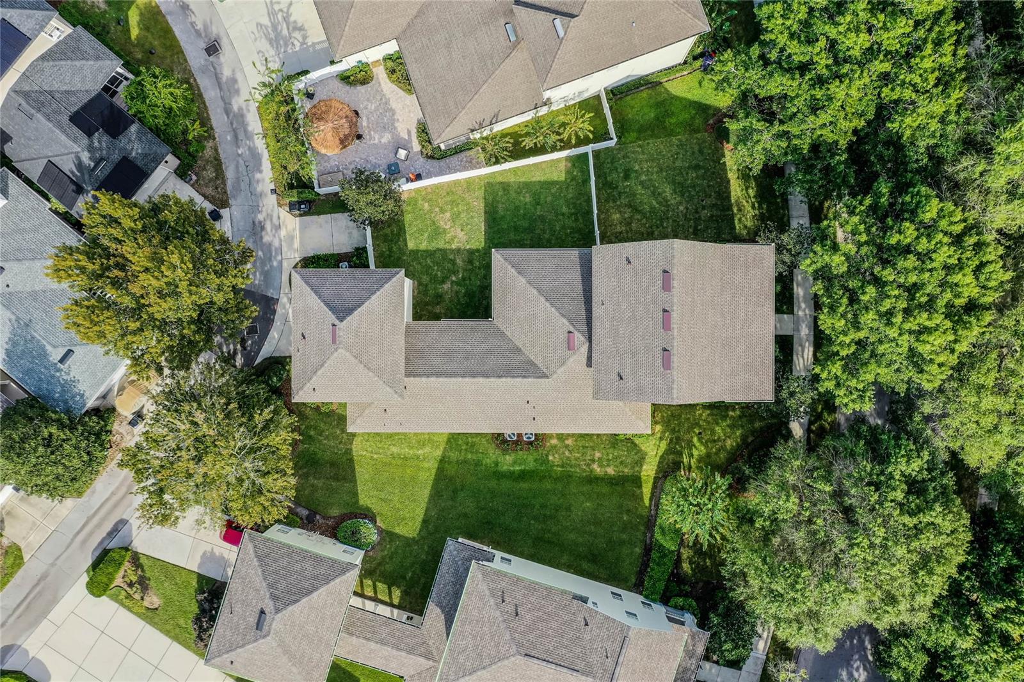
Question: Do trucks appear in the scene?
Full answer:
No, the scene contains no truck.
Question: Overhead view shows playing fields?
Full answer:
No, the photo shows no playing field.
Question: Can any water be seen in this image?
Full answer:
No, water can't be seen anywhere here.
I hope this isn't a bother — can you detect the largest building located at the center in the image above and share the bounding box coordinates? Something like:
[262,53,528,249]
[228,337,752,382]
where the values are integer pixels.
[291,239,775,434]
